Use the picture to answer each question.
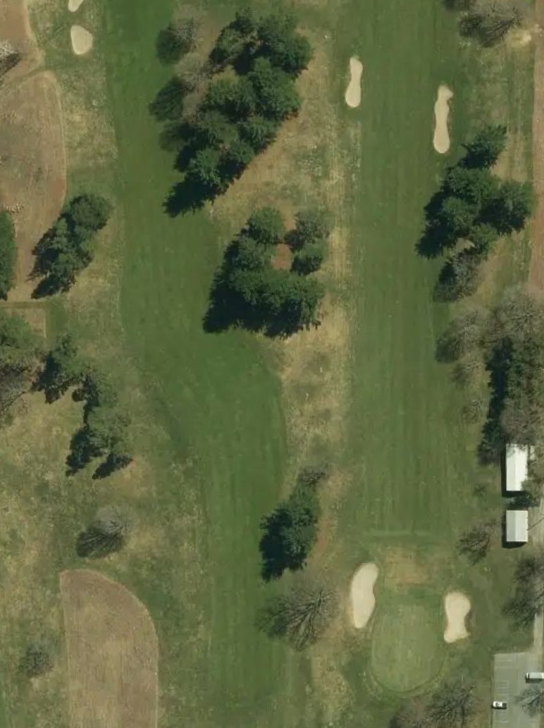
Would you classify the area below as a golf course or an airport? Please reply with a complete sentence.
It's a golf course.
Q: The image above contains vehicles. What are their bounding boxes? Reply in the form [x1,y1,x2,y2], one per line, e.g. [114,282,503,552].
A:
[526,673,544,680]
[492,702,508,707]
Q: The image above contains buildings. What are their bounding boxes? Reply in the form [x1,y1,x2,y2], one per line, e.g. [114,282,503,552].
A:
[507,510,529,542]
[507,443,529,490]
